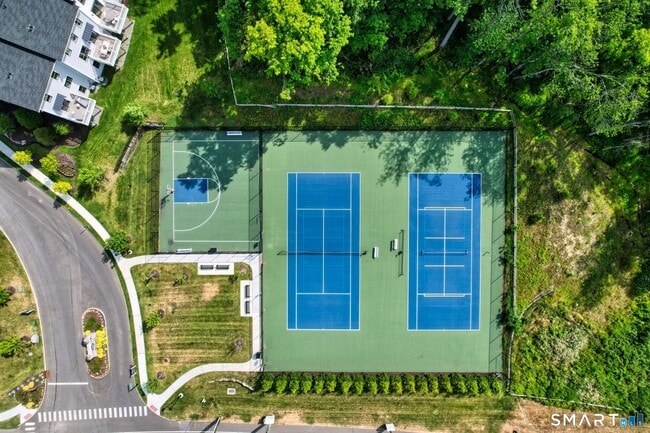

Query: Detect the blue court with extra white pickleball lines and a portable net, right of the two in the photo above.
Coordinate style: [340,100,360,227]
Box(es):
[384,130,506,373]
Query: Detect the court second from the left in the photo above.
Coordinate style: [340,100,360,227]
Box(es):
[262,130,384,372]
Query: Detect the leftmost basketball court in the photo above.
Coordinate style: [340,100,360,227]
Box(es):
[160,130,262,253]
